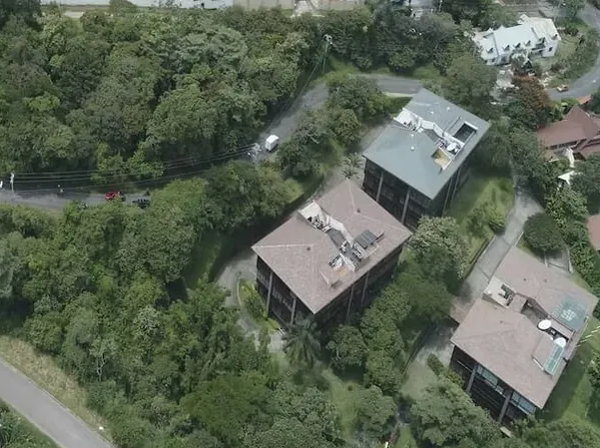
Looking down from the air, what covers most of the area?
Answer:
trees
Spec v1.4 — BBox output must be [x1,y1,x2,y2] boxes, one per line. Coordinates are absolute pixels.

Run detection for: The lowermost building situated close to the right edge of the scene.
[442,245,599,439]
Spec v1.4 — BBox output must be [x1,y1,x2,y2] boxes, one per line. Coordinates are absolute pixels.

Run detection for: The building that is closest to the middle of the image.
[250,179,413,344]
